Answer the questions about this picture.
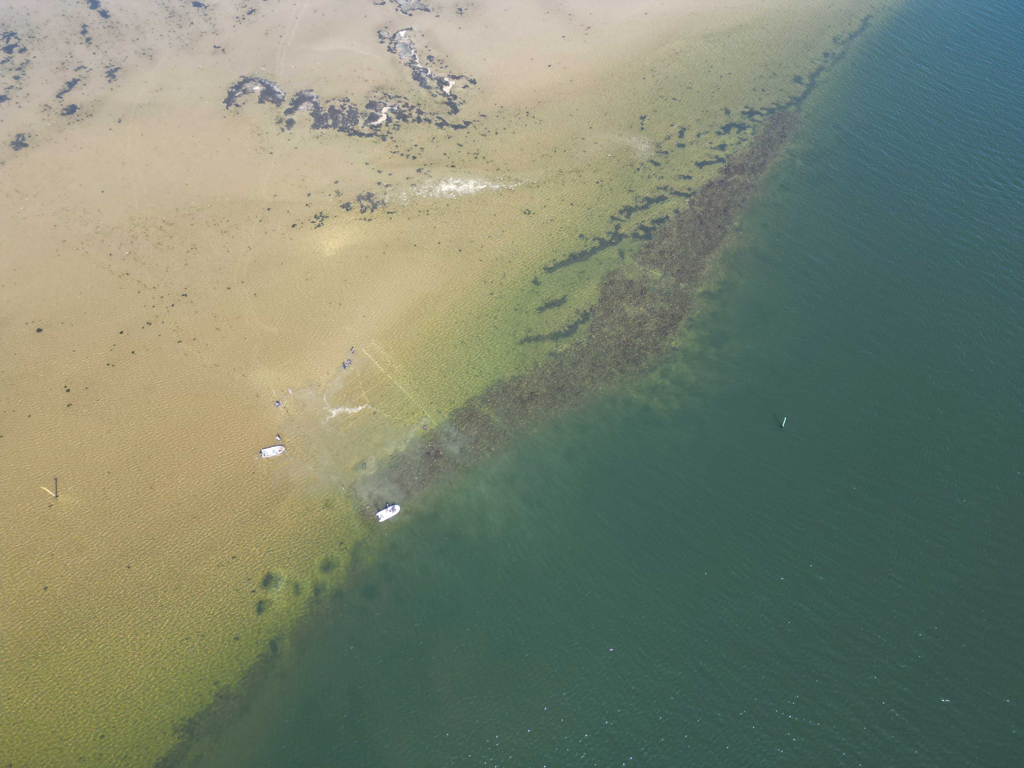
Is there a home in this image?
No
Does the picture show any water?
Yes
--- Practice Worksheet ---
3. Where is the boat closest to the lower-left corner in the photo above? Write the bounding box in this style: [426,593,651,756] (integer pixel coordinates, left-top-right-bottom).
[259,446,285,458]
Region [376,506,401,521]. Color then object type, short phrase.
white boat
